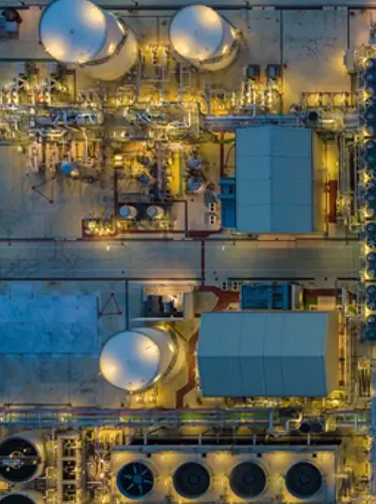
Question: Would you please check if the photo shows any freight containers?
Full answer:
Yes, the picture does show a freight container.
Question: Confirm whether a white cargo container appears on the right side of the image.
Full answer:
No, no white cargo container is visible on the right side of the image.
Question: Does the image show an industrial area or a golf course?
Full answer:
It's an industrial area.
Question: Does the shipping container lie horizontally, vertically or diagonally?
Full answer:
The shipping container has been laid out horizontally relative to the frame.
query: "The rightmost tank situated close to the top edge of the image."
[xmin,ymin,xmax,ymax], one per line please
[167,0,244,73]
